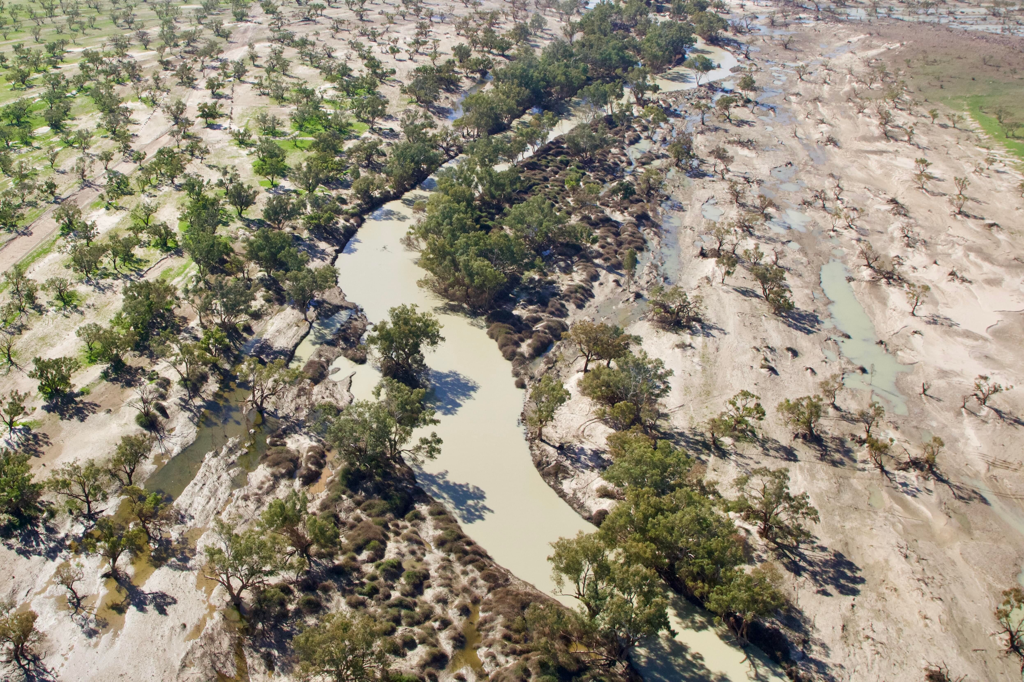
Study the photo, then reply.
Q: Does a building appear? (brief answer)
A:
No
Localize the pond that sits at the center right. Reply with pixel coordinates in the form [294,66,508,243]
[818,257,916,418]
